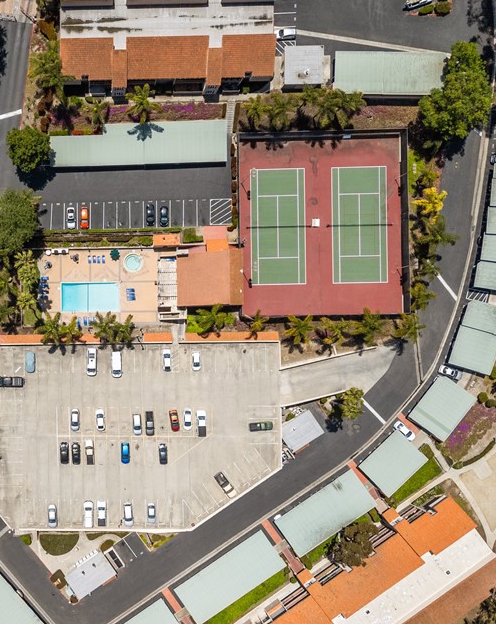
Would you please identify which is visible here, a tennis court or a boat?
tennis court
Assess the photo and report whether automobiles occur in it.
Yes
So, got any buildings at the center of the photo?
Yes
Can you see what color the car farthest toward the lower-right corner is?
white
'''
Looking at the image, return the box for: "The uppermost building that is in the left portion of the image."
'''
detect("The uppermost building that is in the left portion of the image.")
[60,0,276,100]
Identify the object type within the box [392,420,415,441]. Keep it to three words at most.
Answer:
car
